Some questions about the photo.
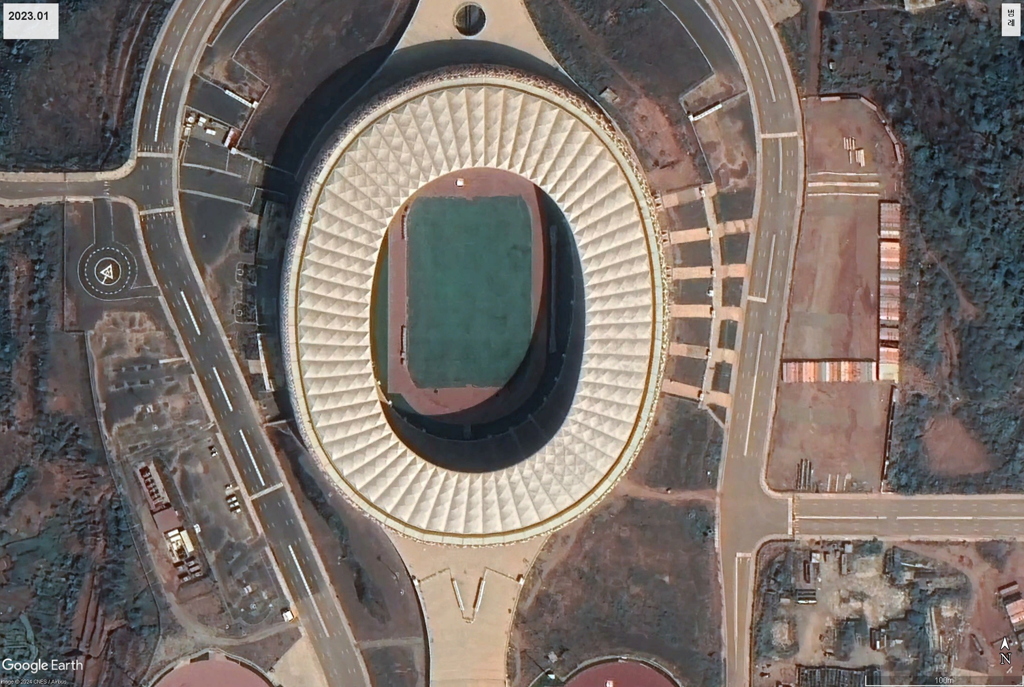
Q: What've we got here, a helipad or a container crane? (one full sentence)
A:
It is a helipad that can be seen here.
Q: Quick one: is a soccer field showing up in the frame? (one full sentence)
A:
Yes, there's a soccer field here.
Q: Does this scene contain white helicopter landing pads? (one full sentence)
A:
No, the picture doesn't show any white helicopter landing pad.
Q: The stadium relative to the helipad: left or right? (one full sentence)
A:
The stadium is to the right of the helipad.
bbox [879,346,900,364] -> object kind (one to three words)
shed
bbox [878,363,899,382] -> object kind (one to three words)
shed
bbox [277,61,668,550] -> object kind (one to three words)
stadium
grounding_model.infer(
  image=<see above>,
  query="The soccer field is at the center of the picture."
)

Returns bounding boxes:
[406,195,532,388]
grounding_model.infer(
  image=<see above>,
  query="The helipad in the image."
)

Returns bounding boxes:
[78,206,157,301]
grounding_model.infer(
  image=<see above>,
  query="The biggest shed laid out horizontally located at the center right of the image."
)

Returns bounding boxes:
[782,359,876,381]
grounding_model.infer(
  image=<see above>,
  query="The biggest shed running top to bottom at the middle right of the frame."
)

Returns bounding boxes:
[879,241,900,325]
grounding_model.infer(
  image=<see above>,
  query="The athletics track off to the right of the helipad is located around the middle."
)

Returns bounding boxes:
[389,168,546,423]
